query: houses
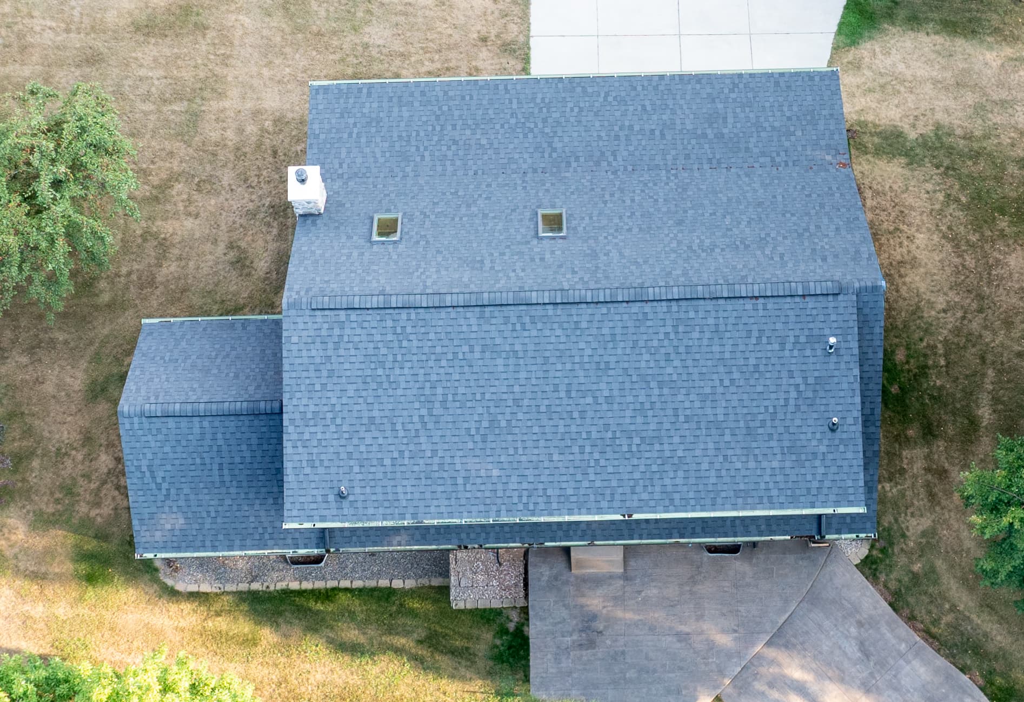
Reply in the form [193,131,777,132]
[117,66,888,559]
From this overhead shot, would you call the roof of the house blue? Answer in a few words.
Yes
